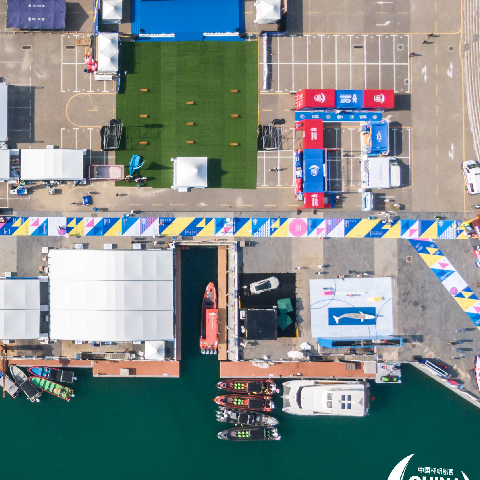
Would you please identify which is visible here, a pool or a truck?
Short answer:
truck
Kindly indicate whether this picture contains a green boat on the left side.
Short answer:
Yes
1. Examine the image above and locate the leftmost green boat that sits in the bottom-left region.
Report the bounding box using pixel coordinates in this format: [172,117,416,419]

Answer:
[29,377,76,400]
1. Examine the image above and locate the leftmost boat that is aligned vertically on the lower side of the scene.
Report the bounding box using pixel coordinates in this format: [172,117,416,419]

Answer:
[199,281,218,353]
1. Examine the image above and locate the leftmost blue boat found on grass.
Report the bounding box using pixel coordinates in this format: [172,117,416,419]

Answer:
[128,154,141,174]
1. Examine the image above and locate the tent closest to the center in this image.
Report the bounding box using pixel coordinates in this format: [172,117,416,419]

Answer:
[169,155,208,190]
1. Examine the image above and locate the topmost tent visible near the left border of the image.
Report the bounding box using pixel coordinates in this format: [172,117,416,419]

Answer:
[6,0,66,32]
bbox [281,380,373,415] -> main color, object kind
white boat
